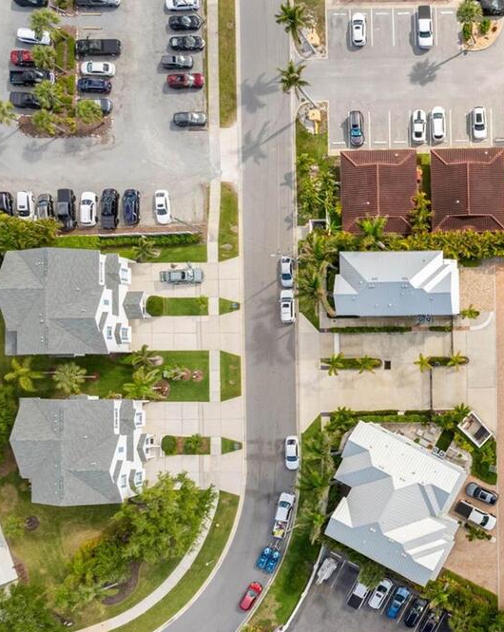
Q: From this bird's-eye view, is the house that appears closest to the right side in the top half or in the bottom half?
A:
top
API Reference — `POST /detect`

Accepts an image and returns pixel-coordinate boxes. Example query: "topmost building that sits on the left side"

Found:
[0,247,152,353]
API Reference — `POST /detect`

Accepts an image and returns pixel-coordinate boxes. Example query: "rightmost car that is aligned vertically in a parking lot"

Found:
[471,106,487,141]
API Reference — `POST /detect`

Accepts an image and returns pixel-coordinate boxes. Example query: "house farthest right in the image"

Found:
[430,147,504,232]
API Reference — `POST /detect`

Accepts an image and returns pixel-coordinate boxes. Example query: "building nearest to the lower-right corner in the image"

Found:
[325,421,465,584]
